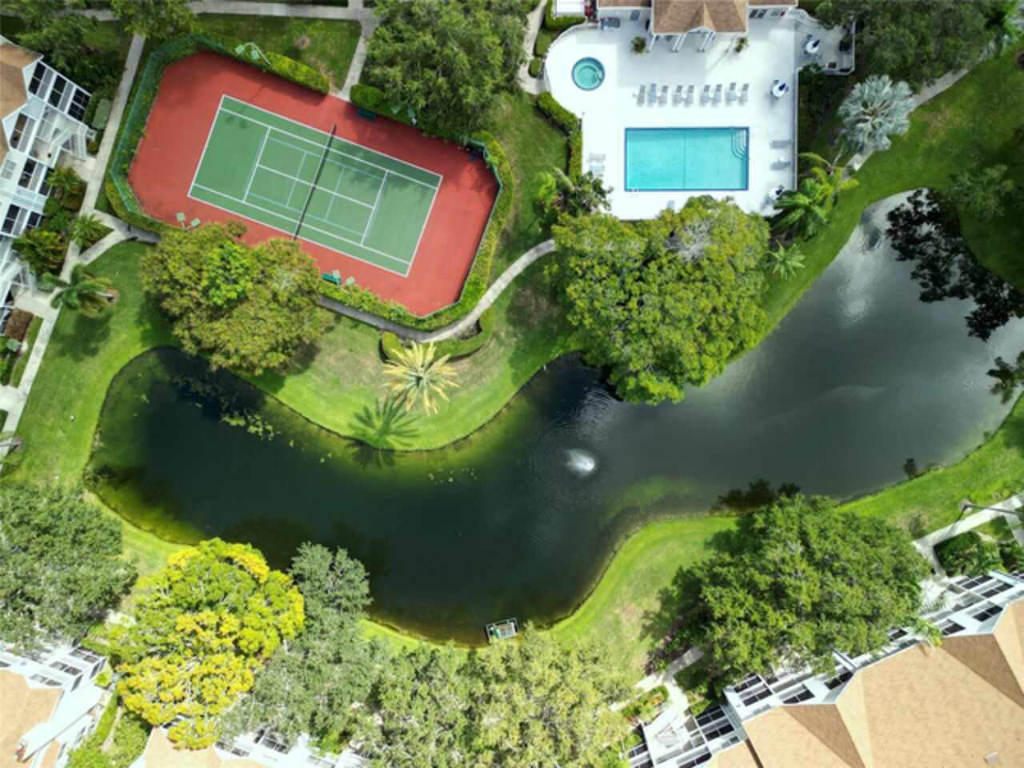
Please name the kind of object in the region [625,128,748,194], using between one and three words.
swimming pool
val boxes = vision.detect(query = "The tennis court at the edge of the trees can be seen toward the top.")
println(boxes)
[129,51,497,315]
